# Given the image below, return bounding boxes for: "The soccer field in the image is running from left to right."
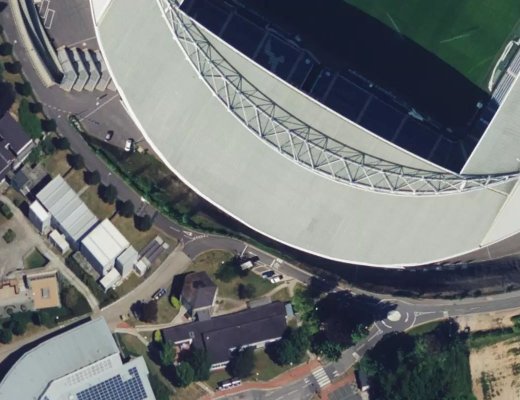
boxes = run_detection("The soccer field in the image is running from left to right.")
[266,0,520,121]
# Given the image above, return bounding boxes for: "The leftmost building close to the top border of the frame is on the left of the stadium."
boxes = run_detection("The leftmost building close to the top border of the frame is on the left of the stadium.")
[10,0,64,89]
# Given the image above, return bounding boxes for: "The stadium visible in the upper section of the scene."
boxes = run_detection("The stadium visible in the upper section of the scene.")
[89,0,520,273]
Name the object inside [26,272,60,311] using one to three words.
building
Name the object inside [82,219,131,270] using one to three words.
shed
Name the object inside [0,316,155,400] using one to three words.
building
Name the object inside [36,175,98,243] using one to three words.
shed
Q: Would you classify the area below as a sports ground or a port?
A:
sports ground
